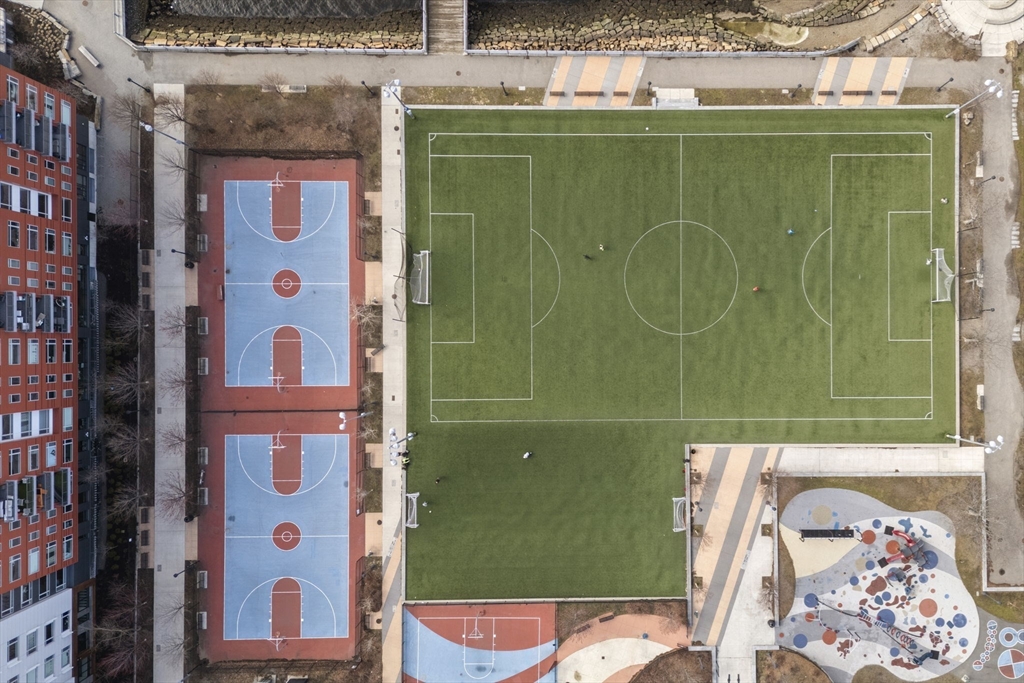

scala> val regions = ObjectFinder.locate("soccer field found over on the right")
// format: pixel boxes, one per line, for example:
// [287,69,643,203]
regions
[400,105,959,603]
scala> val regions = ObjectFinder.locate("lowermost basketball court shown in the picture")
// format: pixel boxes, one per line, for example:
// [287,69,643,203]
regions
[404,604,556,683]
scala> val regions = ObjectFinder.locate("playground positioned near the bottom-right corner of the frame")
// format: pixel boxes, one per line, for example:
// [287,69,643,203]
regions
[777,488,979,683]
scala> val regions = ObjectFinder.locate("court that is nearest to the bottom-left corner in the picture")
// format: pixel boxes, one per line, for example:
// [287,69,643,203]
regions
[200,412,363,661]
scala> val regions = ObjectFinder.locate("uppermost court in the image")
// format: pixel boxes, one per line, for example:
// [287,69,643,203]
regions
[198,157,363,411]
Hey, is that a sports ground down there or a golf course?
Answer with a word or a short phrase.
sports ground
